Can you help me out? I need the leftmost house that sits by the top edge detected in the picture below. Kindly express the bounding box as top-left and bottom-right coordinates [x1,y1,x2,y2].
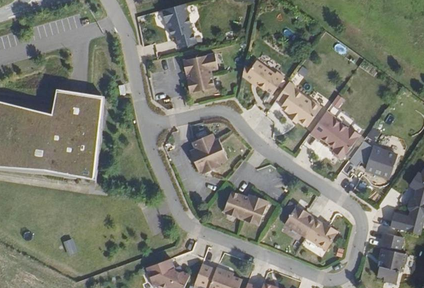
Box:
[160,4,199,51]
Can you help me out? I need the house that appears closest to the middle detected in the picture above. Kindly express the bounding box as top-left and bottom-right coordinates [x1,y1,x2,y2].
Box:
[190,133,226,177]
